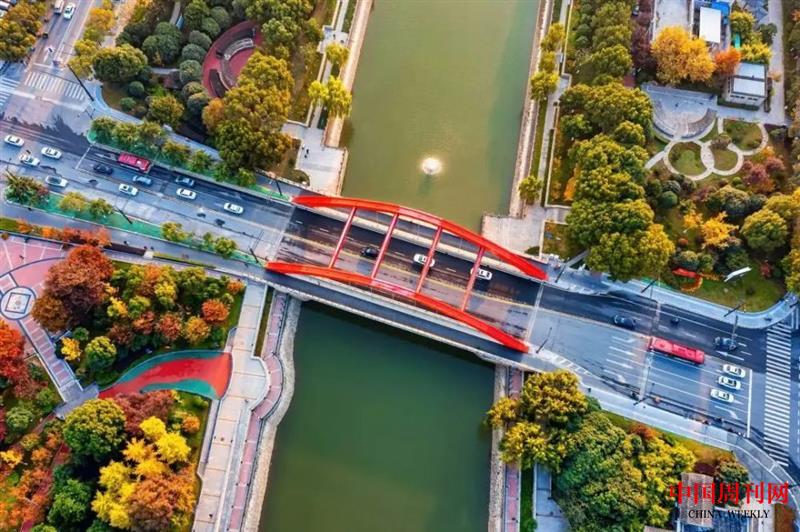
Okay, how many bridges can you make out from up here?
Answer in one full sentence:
Just 1 bridge appears in this view.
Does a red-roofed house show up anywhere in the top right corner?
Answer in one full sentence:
No, I see no red-roofed house in the top right corner.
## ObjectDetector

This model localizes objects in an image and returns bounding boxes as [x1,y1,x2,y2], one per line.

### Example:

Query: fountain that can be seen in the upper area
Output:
[417,155,448,177]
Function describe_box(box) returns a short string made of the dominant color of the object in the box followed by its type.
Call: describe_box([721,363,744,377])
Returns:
white car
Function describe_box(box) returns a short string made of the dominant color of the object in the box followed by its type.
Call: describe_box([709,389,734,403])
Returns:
white car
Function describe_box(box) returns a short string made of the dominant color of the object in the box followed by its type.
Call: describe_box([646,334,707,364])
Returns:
red bus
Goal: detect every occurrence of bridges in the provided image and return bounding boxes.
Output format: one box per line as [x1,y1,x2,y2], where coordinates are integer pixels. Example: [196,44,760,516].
[248,182,559,368]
